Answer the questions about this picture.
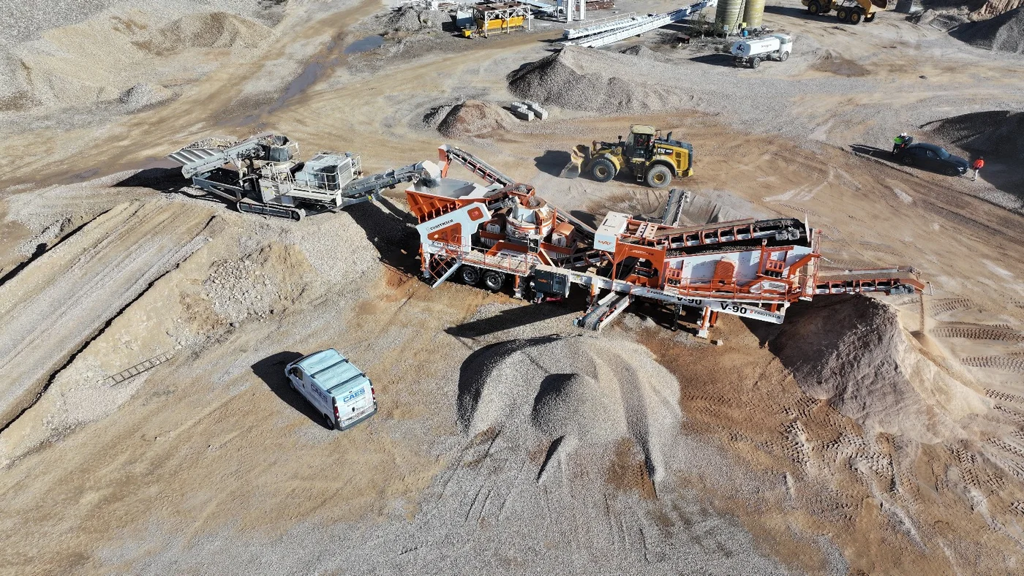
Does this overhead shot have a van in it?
Yes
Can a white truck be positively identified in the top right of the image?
Yes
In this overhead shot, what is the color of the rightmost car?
black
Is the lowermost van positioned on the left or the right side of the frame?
left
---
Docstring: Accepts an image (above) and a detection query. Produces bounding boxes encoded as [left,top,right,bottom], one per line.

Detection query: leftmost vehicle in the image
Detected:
[280,344,381,437]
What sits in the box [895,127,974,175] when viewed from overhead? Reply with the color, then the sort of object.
black car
